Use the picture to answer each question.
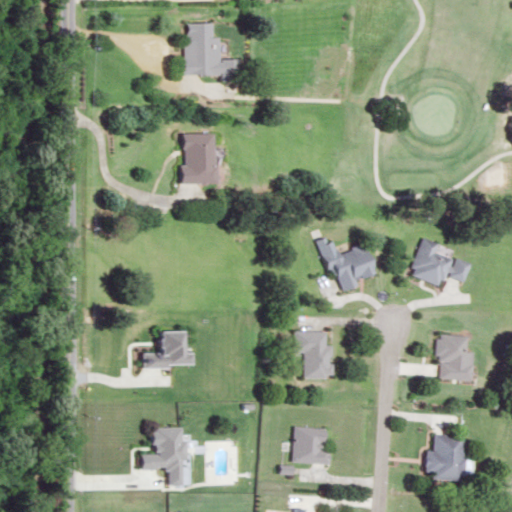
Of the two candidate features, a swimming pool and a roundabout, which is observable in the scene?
swimming pool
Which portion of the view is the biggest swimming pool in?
bottom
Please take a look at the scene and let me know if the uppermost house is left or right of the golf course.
left of it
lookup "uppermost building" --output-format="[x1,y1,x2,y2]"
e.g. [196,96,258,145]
[184,24,240,76]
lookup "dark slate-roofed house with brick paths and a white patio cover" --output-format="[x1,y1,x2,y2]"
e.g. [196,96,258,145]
[424,434,476,481]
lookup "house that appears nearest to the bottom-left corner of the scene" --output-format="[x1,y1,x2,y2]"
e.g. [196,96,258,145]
[141,428,206,486]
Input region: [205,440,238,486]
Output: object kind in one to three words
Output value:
swimming pool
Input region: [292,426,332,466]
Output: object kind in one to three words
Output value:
house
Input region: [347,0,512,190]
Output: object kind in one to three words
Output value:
golf course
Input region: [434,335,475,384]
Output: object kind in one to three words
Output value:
house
